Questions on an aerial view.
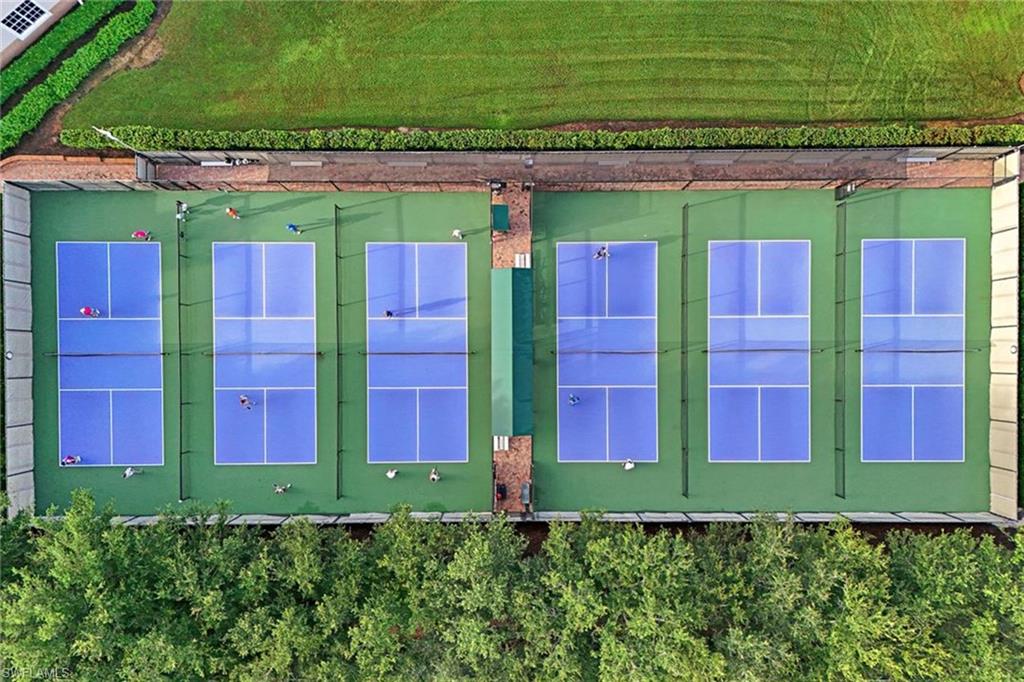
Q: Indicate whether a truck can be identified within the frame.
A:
No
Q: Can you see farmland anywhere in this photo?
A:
No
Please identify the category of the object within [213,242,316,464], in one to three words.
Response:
sports court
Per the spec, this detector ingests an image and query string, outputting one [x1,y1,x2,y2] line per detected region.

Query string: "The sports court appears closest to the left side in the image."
[57,242,163,466]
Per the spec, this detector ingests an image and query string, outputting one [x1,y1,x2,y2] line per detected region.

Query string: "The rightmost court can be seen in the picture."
[862,239,965,462]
